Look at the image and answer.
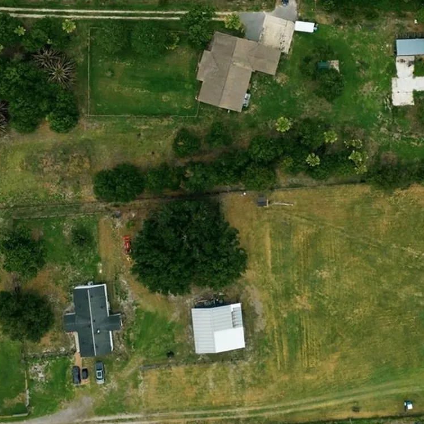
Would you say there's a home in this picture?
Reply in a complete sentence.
Yes, looking at the shot, I can spot a home.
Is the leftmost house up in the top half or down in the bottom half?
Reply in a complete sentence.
The leftmost house sits in the bottom half of the picture.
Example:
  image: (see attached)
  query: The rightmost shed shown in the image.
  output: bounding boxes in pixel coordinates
[394,34,424,56]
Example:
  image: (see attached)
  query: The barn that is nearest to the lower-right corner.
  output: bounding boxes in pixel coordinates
[191,300,245,353]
